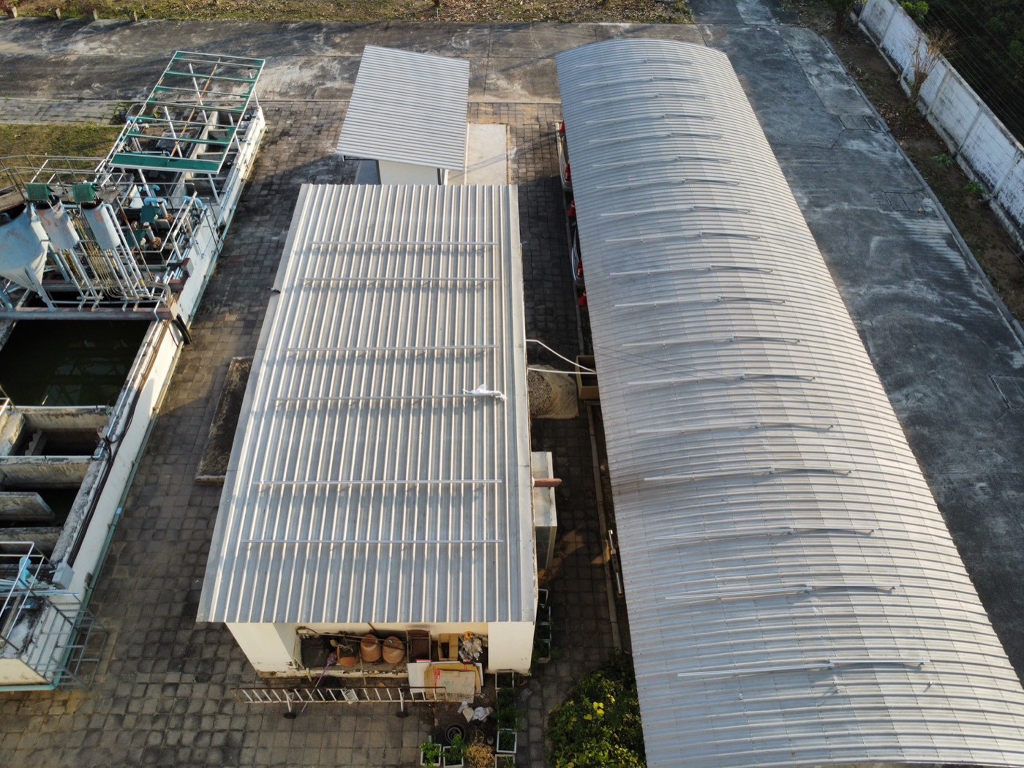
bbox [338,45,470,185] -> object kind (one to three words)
shed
